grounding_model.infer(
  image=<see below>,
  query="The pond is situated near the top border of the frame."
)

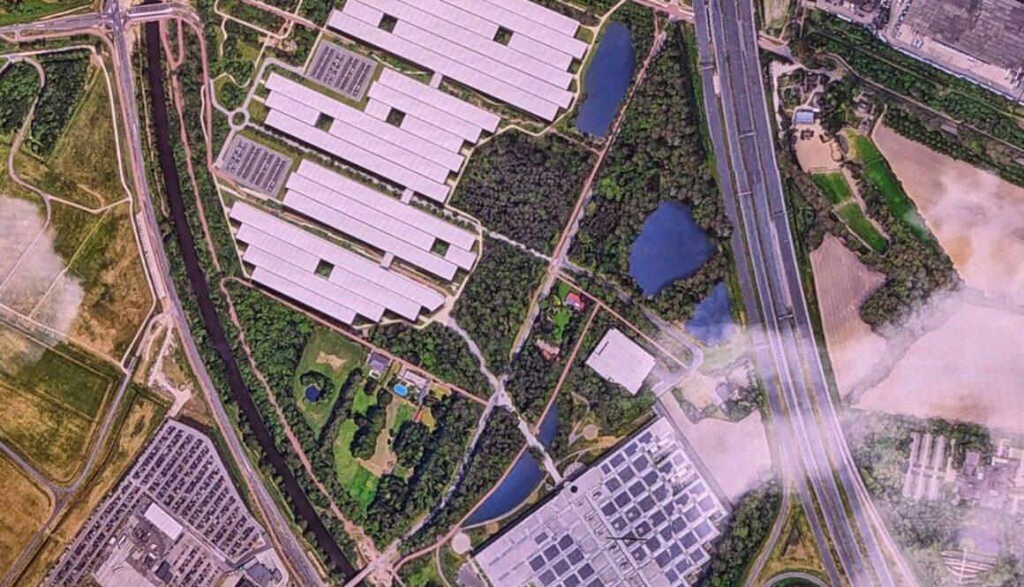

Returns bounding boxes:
[576,21,634,136]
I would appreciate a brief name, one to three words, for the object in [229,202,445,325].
building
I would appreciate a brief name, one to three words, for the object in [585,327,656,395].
building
